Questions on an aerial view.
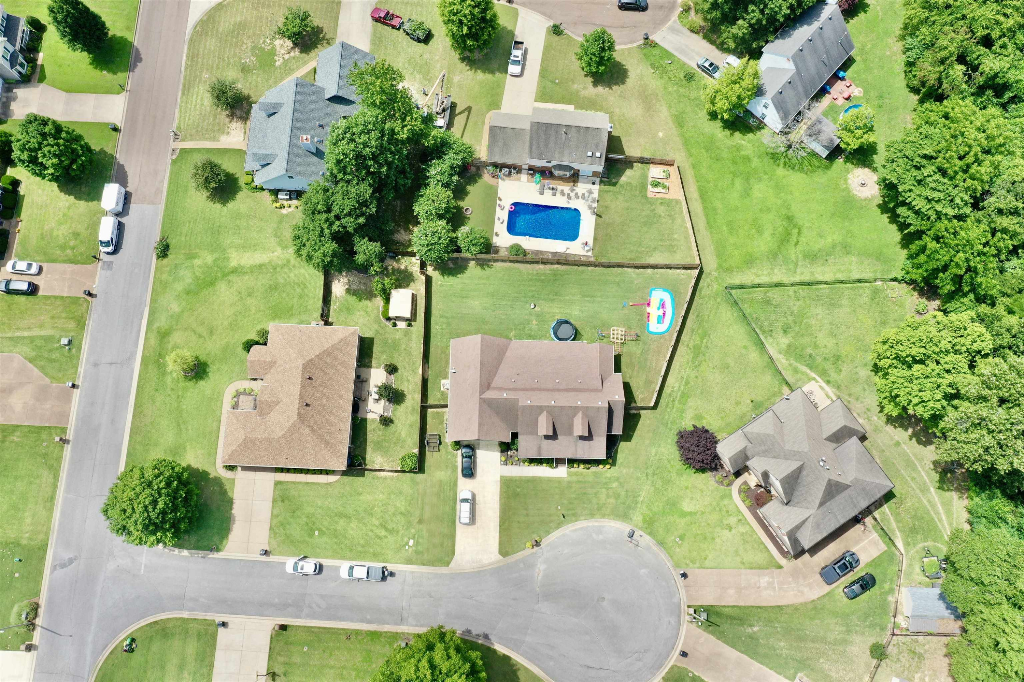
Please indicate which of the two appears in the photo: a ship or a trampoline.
trampoline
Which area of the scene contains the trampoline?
center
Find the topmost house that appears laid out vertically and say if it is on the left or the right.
left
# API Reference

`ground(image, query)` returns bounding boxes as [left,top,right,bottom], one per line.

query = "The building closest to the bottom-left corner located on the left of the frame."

[220,324,360,470]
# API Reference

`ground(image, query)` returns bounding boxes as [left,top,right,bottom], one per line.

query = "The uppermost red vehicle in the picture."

[369,7,402,29]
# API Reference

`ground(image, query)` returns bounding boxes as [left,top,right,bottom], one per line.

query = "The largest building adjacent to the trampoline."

[447,334,625,468]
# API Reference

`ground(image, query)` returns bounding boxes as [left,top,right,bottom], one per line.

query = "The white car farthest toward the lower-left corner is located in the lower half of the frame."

[285,553,321,581]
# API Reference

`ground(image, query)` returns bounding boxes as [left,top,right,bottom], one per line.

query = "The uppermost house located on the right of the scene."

[750,0,855,135]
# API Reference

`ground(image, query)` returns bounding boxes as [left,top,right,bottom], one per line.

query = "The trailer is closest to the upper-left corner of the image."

[101,186,129,220]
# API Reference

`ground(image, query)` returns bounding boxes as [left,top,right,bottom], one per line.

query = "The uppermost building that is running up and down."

[0,2,37,92]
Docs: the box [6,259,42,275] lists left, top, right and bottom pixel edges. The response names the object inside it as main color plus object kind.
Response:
white car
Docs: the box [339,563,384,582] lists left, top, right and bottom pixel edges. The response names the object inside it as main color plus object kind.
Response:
white vehicle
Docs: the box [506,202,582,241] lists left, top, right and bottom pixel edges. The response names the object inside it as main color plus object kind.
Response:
blue swimming pool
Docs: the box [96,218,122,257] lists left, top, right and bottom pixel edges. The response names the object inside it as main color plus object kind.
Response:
white vehicle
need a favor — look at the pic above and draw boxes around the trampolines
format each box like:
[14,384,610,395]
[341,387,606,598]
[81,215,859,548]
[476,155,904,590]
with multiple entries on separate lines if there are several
[550,315,576,341]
